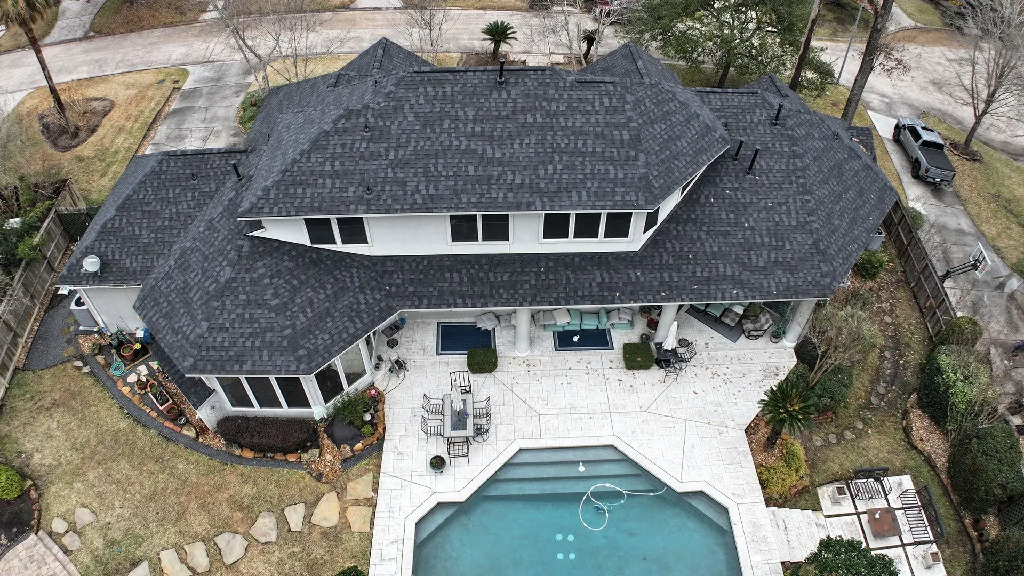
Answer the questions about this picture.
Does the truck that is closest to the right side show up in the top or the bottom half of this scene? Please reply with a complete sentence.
The truck that is closest to the right side sits in the top half of the picture.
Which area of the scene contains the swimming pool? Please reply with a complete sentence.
The swimming pool appears toward the bottom of the photo.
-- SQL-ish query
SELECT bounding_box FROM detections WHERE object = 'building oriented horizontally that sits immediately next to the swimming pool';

[55,36,900,430]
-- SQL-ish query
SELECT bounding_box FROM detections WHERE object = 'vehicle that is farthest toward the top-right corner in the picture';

[897,116,969,186]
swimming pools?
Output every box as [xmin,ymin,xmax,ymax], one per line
[402,436,756,576]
